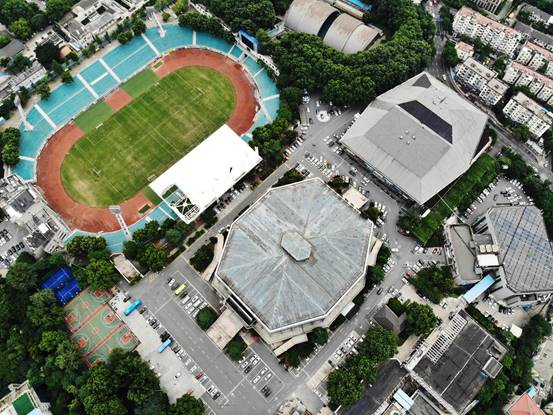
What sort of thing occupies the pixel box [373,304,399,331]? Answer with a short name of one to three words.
house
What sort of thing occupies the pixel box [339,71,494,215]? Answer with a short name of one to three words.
building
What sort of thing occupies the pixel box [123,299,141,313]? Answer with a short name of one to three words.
vehicle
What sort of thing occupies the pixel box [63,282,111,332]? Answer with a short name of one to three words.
basketball court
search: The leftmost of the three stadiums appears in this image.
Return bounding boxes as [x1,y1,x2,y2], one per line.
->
[19,29,280,251]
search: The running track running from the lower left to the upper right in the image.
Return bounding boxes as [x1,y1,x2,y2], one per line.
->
[36,50,258,231]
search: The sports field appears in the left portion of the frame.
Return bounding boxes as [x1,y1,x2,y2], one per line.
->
[60,67,235,208]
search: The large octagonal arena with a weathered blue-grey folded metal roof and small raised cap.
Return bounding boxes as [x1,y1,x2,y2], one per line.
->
[201,177,382,357]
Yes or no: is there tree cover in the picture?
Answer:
Yes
